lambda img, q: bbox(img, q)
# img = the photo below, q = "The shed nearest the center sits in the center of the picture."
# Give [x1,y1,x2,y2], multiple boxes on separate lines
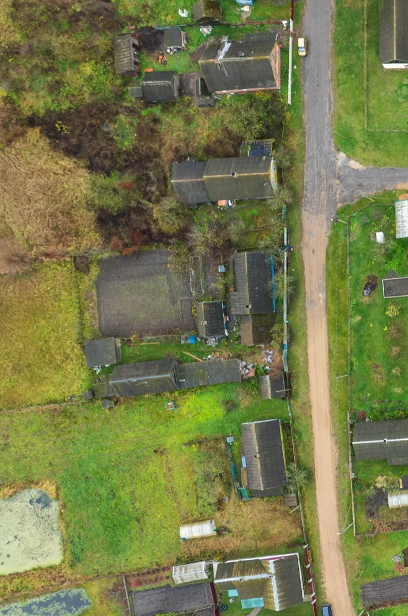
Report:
[198,301,228,336]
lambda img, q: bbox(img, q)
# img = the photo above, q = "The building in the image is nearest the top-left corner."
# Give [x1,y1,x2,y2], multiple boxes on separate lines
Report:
[115,32,147,76]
